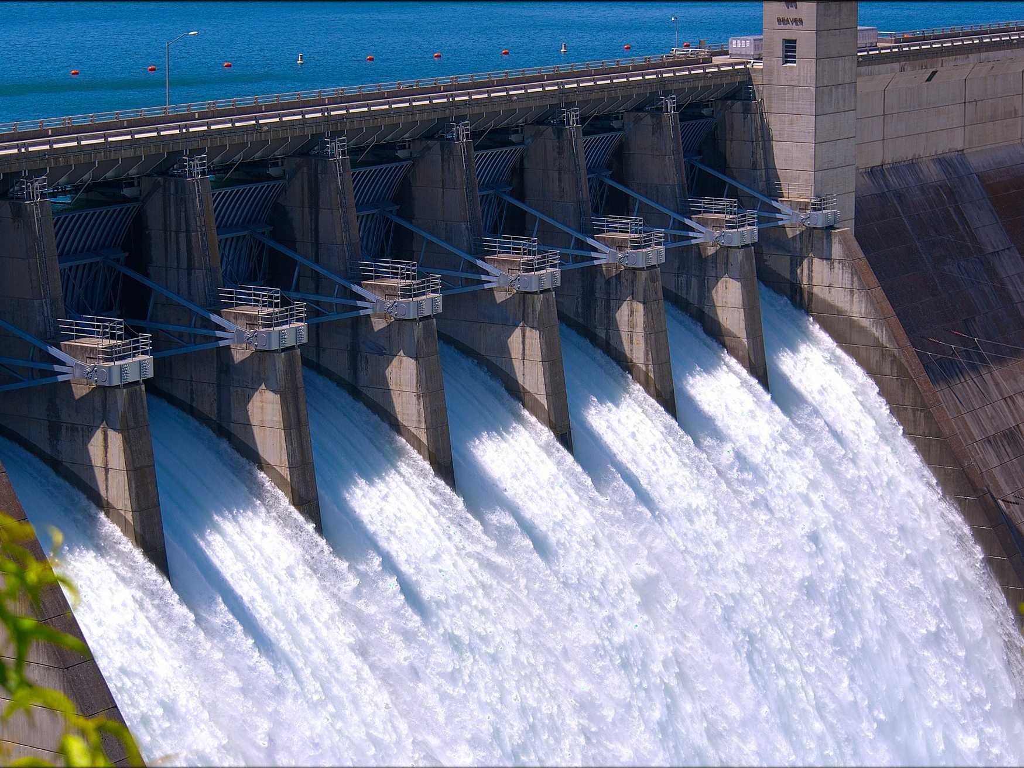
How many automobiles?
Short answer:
none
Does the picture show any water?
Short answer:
Yes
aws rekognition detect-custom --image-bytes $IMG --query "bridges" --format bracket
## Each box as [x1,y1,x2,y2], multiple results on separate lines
[0,53,751,205]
